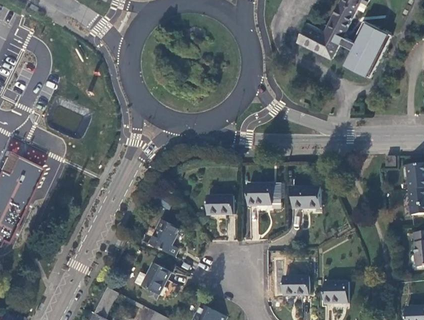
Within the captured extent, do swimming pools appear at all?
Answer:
No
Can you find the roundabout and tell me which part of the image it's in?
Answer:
top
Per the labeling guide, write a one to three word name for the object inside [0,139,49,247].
building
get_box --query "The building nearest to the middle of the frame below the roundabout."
[202,194,235,216]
